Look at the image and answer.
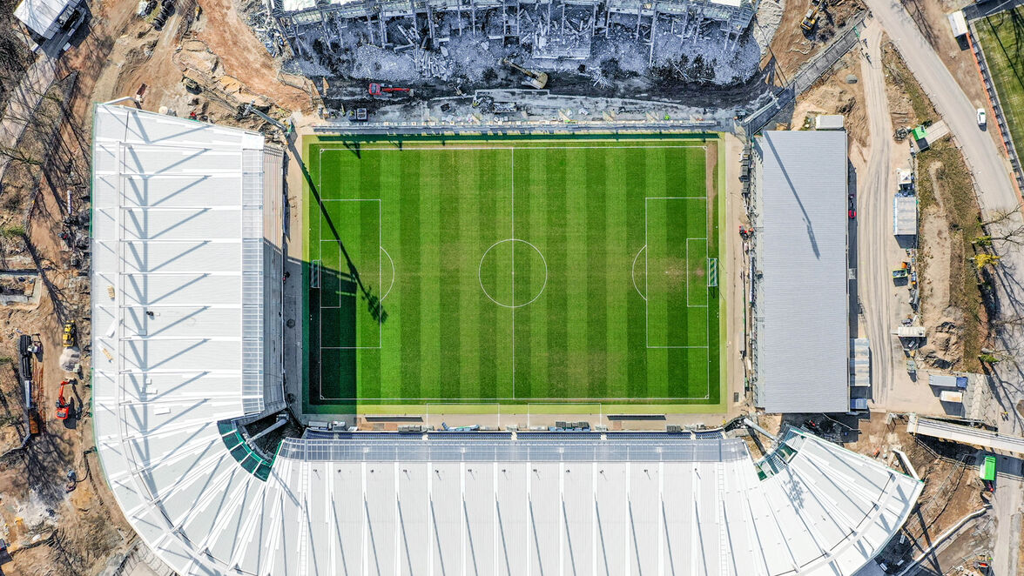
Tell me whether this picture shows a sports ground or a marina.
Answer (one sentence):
What you see here is a sports ground.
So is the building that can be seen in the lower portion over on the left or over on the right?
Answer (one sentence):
The building that can be seen in the lower portion appears in the right half of the scene.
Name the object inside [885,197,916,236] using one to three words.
building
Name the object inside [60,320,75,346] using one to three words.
work vehicle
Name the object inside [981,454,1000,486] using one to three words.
vehicle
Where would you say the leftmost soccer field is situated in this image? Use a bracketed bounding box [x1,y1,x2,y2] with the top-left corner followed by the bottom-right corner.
[301,131,727,426]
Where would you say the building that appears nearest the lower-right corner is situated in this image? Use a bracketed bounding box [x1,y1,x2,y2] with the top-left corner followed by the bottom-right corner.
[849,336,870,386]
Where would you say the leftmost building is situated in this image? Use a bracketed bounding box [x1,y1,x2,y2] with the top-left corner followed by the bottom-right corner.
[11,0,90,36]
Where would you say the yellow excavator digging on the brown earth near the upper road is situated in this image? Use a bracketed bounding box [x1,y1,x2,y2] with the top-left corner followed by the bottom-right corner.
[800,0,832,32]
